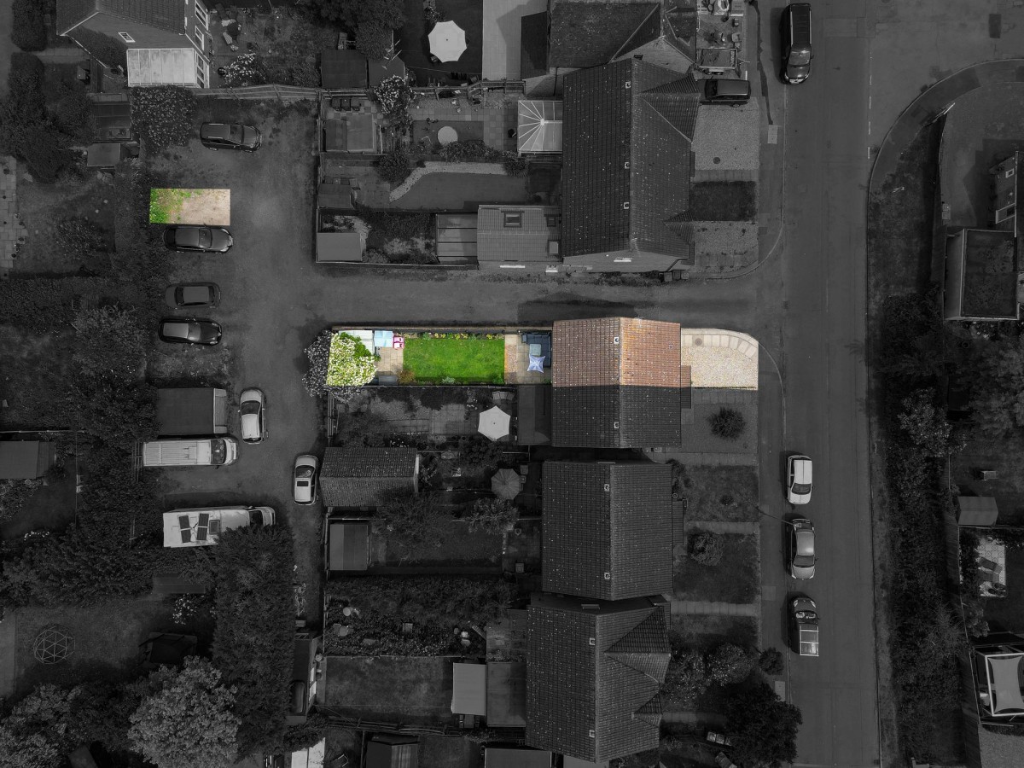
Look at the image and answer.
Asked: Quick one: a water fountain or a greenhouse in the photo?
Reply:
greenhouse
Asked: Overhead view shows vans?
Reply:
Yes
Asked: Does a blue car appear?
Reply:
No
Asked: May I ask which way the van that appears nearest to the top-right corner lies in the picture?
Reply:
vertically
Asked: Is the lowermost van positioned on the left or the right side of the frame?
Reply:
right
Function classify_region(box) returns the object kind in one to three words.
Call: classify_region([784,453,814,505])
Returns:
car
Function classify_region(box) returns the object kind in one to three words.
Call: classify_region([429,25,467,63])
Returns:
umbrella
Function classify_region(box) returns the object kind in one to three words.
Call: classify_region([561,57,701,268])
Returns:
house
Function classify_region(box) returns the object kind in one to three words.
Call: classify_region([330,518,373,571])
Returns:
shed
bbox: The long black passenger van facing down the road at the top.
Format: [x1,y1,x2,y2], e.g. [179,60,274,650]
[779,4,815,84]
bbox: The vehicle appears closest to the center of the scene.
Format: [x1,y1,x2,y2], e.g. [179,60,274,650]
[291,454,319,504]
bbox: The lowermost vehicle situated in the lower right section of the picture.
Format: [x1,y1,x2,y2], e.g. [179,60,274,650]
[787,594,819,657]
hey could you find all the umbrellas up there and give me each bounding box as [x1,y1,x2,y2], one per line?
[478,404,511,440]
[527,354,545,372]
[491,468,521,499]
[429,25,467,63]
